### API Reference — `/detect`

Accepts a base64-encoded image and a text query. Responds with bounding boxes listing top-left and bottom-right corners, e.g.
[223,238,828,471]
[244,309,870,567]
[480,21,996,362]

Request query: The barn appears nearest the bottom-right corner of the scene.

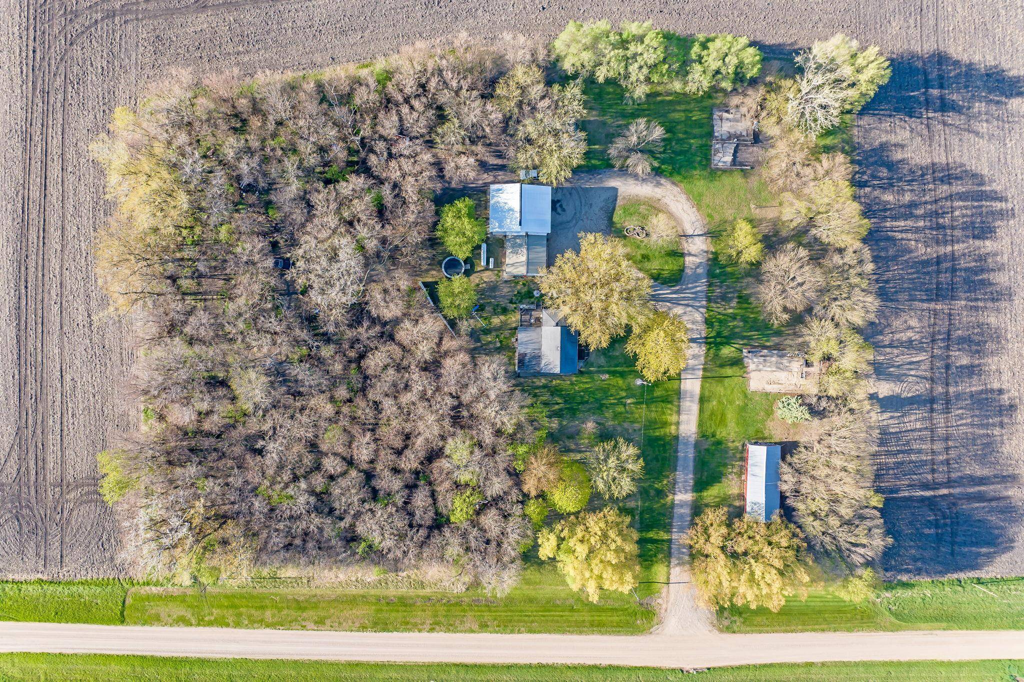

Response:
[744,442,781,523]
